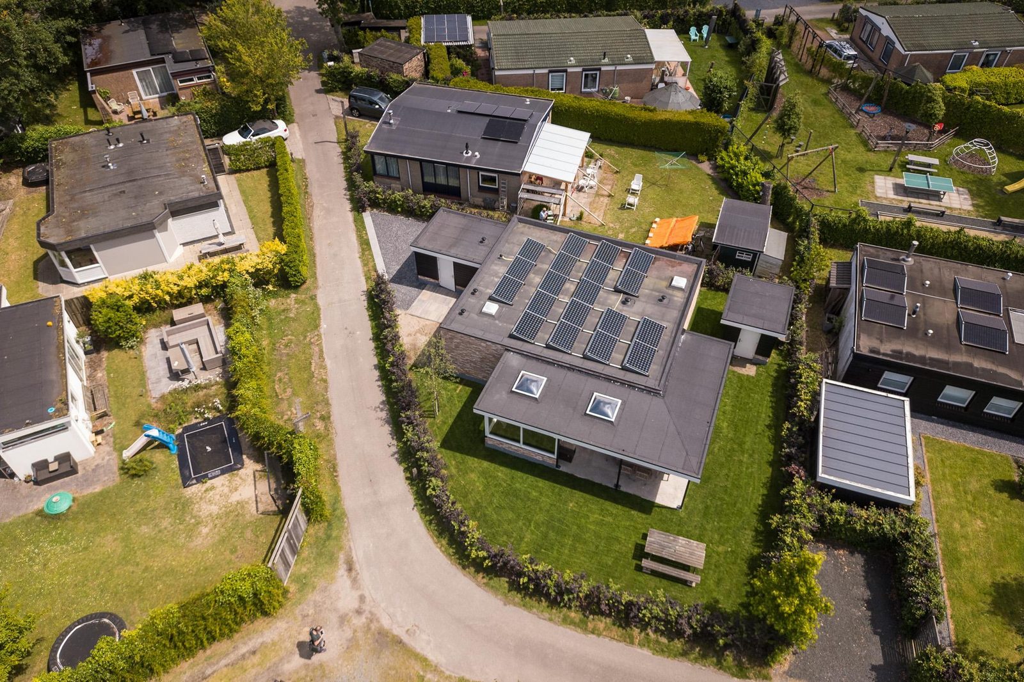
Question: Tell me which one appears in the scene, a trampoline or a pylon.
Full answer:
I can see a trampoline in this picture.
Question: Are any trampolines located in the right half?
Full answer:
No, the scene shows no trampoline in the right half.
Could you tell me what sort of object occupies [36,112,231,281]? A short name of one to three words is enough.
house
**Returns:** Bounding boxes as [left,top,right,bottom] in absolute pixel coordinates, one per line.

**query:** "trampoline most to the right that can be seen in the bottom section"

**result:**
[179,417,246,491]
